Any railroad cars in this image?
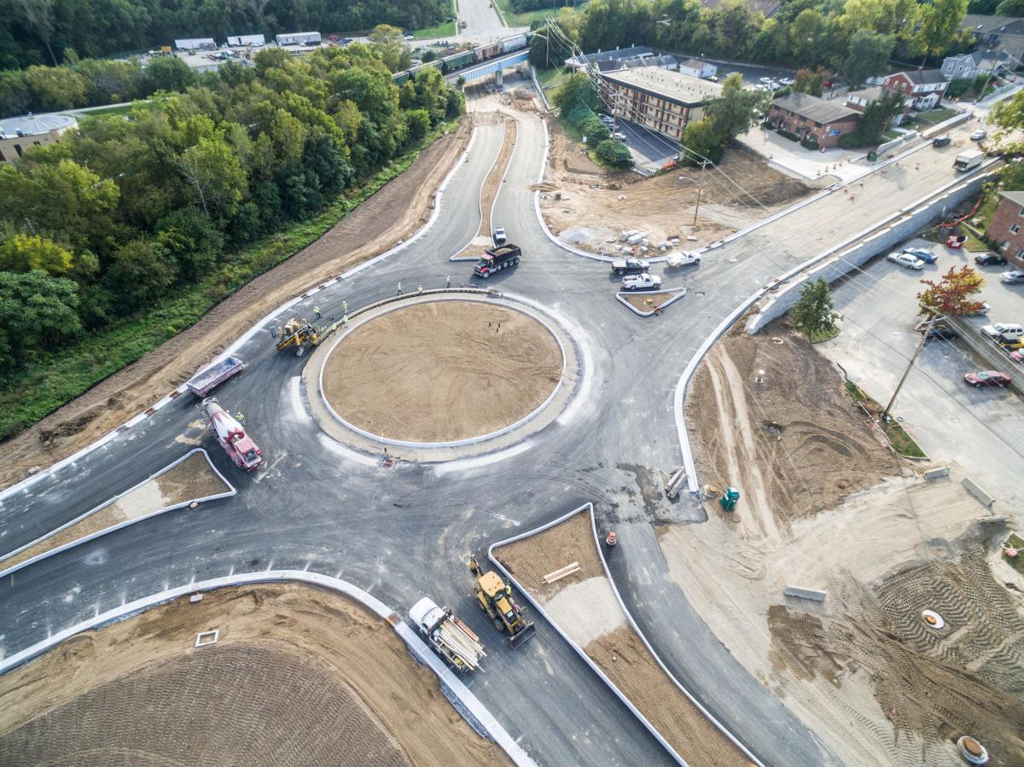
Yes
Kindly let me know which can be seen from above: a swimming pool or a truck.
truck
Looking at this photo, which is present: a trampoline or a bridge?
bridge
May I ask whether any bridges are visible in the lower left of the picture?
No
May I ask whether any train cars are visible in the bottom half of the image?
No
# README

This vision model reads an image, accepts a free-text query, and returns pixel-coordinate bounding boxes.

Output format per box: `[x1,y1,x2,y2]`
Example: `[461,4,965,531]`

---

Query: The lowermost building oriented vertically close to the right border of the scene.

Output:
[979,192,1024,291]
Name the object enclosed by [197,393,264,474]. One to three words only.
truck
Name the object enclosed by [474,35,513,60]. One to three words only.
rail car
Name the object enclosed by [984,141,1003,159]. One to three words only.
work vehicle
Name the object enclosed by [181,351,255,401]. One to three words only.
trailer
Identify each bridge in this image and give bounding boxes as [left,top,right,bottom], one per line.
[456,51,539,90]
